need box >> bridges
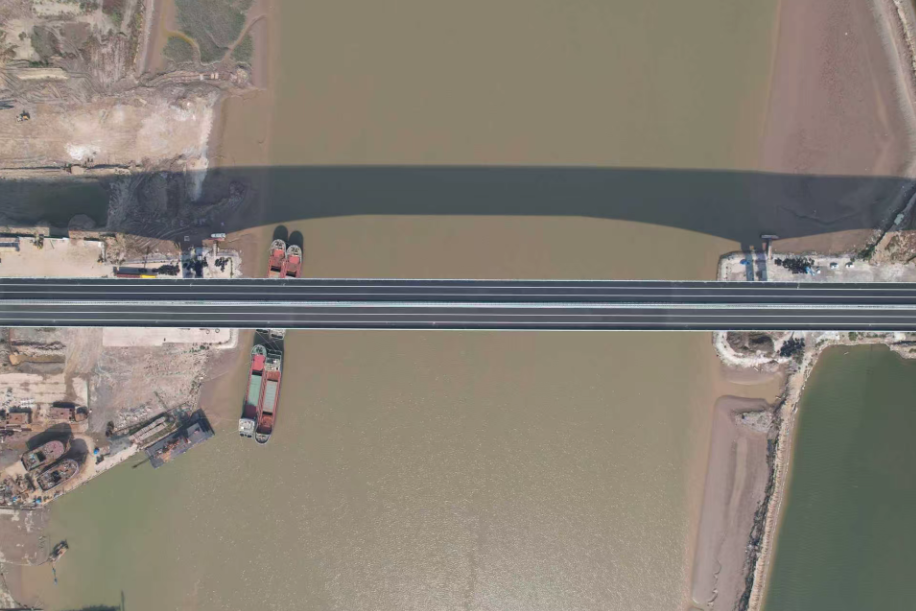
[0,278,916,331]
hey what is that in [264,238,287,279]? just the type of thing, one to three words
ship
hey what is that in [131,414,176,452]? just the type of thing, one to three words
ship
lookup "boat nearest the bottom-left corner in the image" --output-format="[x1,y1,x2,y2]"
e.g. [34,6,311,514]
[49,542,70,561]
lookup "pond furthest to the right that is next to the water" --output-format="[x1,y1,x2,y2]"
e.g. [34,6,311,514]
[763,344,916,611]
